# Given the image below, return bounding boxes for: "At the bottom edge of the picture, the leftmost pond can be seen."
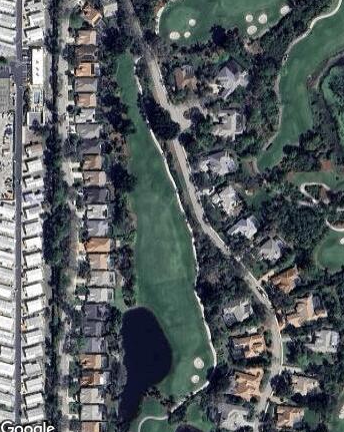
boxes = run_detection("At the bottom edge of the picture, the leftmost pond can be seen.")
[119,306,173,422]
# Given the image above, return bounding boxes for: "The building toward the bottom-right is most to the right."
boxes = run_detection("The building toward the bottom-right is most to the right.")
[311,331,339,352]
